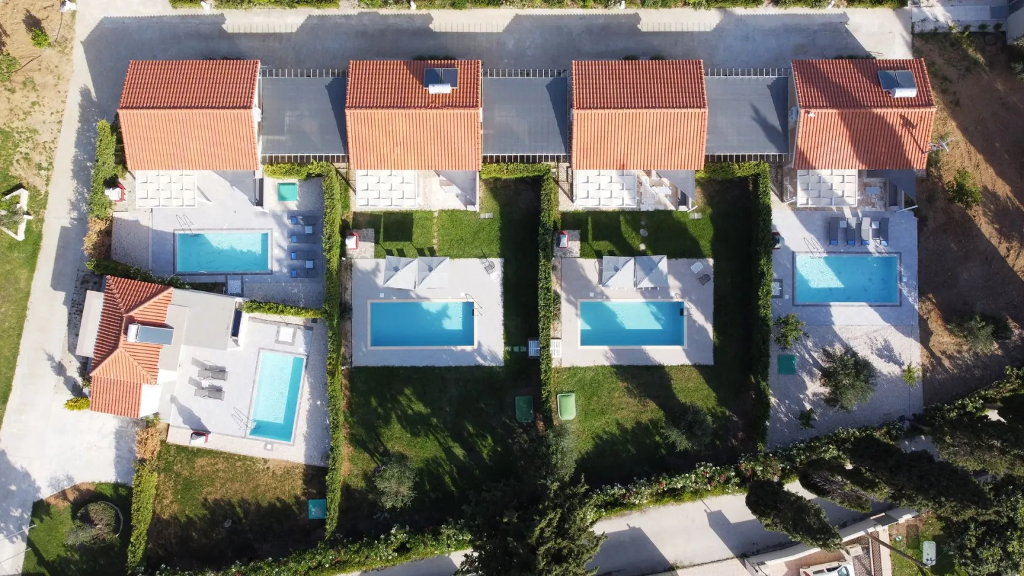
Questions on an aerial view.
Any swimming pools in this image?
Yes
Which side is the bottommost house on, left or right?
left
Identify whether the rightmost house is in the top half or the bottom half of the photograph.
top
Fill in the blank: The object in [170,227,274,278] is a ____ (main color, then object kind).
blue swimming pool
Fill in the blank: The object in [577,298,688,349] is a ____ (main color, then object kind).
blue swimming pool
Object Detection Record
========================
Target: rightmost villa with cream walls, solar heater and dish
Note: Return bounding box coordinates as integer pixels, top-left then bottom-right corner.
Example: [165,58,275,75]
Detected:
[780,59,938,171]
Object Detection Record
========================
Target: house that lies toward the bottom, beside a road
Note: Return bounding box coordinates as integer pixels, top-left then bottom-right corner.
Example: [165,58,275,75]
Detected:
[76,275,261,418]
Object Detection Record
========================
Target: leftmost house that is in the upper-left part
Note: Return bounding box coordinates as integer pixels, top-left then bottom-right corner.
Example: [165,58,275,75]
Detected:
[116,59,273,171]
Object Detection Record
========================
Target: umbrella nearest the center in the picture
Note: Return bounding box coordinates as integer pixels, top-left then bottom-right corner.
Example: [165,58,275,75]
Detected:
[416,256,450,290]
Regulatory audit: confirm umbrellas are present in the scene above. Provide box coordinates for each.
[383,255,417,290]
[635,254,669,288]
[416,256,450,290]
[601,255,635,289]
